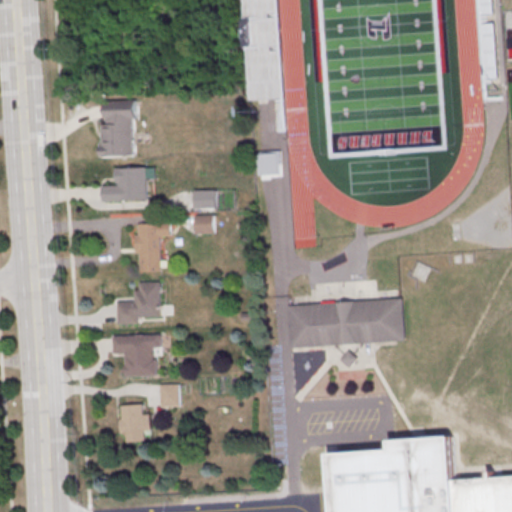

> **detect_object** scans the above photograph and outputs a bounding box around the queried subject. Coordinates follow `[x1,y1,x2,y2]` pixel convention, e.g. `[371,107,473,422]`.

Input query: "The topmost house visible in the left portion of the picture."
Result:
[98,100,140,156]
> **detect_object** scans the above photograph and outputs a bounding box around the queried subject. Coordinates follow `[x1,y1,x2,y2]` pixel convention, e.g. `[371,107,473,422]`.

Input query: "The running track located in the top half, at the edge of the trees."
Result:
[278,0,484,250]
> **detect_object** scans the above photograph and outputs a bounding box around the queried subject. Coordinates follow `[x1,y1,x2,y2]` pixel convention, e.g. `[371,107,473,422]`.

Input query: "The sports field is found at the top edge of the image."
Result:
[311,0,455,160]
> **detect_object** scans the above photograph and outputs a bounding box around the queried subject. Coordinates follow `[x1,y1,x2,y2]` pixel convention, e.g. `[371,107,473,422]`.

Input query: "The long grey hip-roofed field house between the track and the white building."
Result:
[288,298,406,346]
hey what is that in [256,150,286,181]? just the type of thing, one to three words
building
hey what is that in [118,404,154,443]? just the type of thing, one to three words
house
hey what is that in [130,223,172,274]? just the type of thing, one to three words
house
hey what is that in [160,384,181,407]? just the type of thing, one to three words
building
